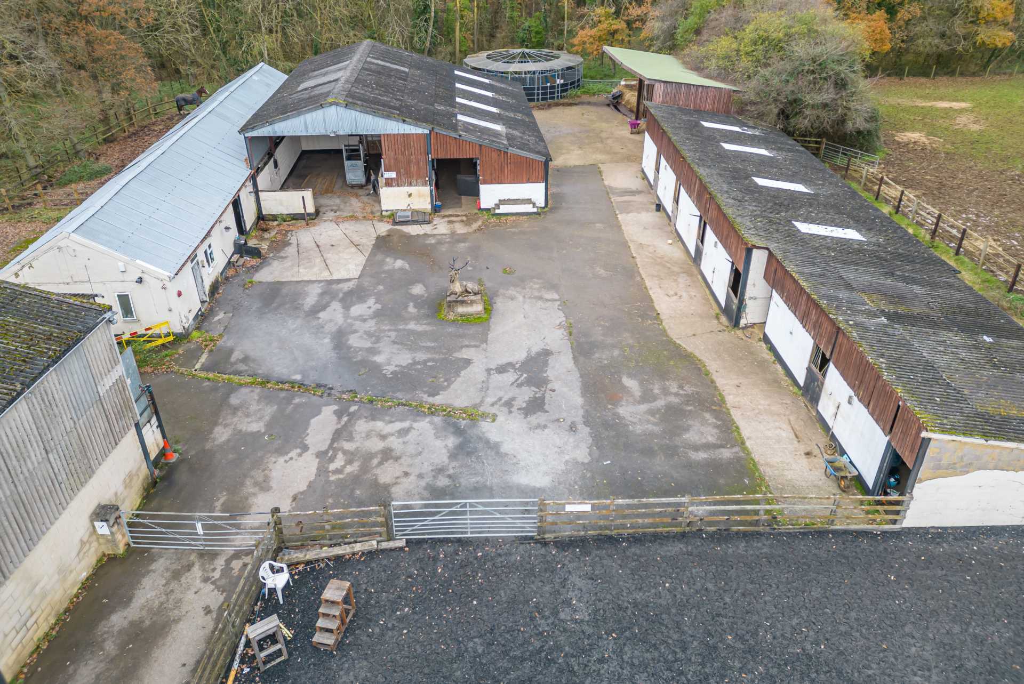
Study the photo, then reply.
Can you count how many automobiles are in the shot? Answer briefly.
none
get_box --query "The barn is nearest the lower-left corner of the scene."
[0,280,164,684]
